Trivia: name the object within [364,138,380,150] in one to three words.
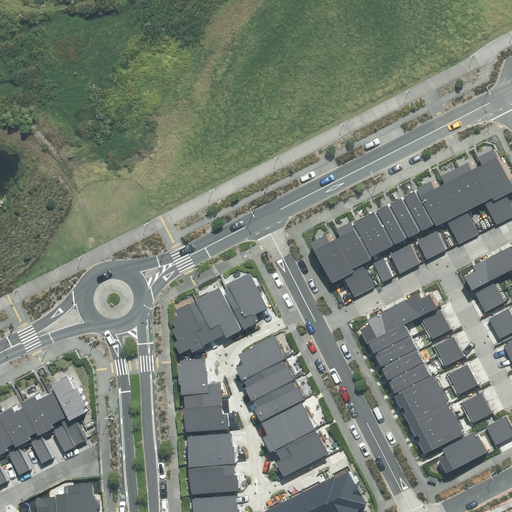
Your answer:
vehicle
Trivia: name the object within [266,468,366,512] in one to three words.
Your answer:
house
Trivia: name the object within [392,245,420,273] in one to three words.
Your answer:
building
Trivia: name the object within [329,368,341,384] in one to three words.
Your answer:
vehicle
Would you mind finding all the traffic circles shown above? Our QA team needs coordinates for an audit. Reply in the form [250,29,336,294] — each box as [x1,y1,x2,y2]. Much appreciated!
[39,257,174,356]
